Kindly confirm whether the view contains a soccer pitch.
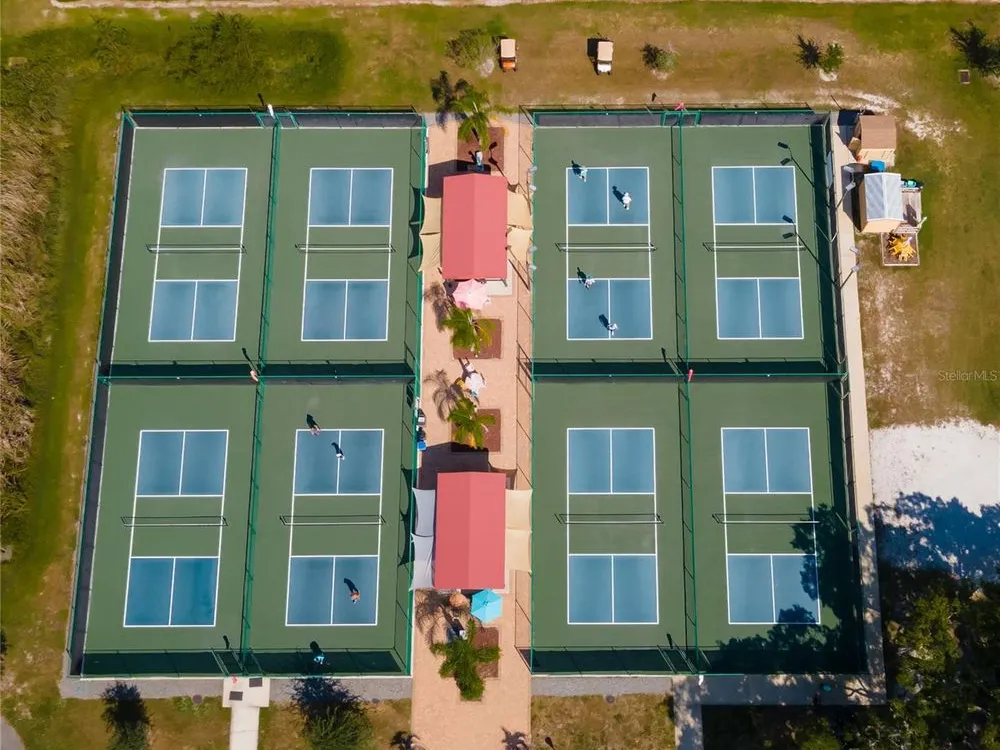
No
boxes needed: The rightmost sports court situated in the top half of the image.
[680,124,847,380]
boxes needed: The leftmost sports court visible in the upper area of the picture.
[111,126,279,381]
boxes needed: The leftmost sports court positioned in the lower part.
[84,384,264,677]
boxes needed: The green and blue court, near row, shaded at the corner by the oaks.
[688,383,867,674]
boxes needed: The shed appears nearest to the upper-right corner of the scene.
[846,116,899,160]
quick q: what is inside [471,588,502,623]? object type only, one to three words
umbrella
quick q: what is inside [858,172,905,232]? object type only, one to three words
shed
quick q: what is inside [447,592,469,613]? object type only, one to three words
umbrella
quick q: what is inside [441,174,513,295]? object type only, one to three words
building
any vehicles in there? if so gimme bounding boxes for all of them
[499,38,518,74]
[596,41,615,76]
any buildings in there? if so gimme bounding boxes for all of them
[435,471,511,596]
[858,172,905,232]
[441,174,513,295]
[846,116,899,160]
